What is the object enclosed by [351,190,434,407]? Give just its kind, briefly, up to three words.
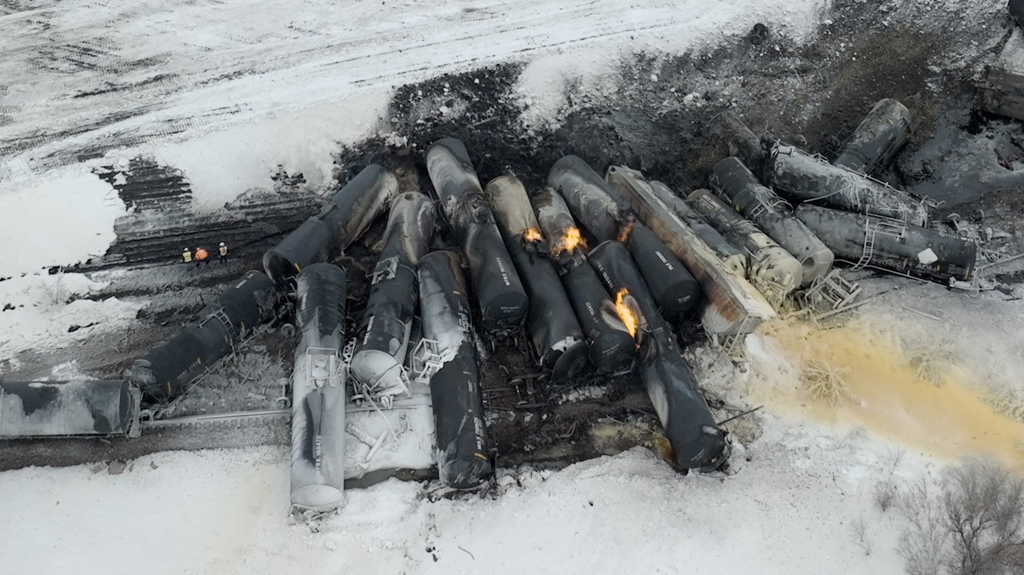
rail car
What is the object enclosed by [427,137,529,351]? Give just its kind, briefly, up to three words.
rail car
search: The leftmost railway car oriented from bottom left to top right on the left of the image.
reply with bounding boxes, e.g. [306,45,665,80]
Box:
[122,271,291,410]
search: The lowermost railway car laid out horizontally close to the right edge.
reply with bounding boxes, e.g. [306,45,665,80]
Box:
[805,195,998,296]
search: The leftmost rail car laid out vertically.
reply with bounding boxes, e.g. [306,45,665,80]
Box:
[287,260,355,534]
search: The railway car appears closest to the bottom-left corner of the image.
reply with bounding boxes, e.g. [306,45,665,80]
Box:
[0,378,151,438]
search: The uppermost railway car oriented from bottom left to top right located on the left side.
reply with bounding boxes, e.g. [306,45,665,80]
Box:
[266,166,398,290]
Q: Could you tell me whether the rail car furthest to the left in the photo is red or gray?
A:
gray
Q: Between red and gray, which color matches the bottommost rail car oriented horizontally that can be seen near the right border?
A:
gray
